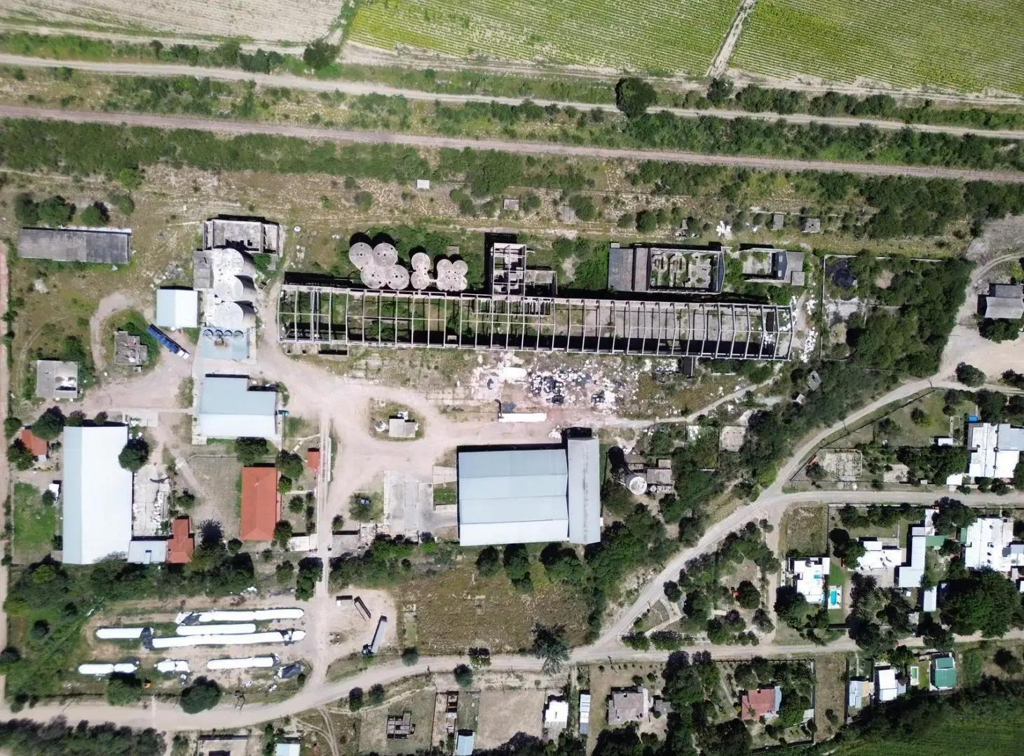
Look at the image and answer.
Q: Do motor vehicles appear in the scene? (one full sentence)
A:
Yes, looking at the shot, I can spot a motor vehicle.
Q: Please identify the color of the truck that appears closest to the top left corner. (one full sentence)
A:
The color of the truck that appears closest to the top left corner is blue.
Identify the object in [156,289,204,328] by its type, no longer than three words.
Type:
barn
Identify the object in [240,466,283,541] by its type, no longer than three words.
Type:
building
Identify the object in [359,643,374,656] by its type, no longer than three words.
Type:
vehicle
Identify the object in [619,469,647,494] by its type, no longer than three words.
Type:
water tower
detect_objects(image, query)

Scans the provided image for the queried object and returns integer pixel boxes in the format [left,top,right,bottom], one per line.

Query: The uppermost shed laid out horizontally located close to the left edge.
[18,229,134,264]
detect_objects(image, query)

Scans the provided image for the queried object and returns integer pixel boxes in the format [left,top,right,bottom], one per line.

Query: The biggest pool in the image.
[828,586,842,609]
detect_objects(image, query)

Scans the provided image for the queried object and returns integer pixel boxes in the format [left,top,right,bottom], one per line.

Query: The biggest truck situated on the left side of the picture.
[147,327,191,359]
